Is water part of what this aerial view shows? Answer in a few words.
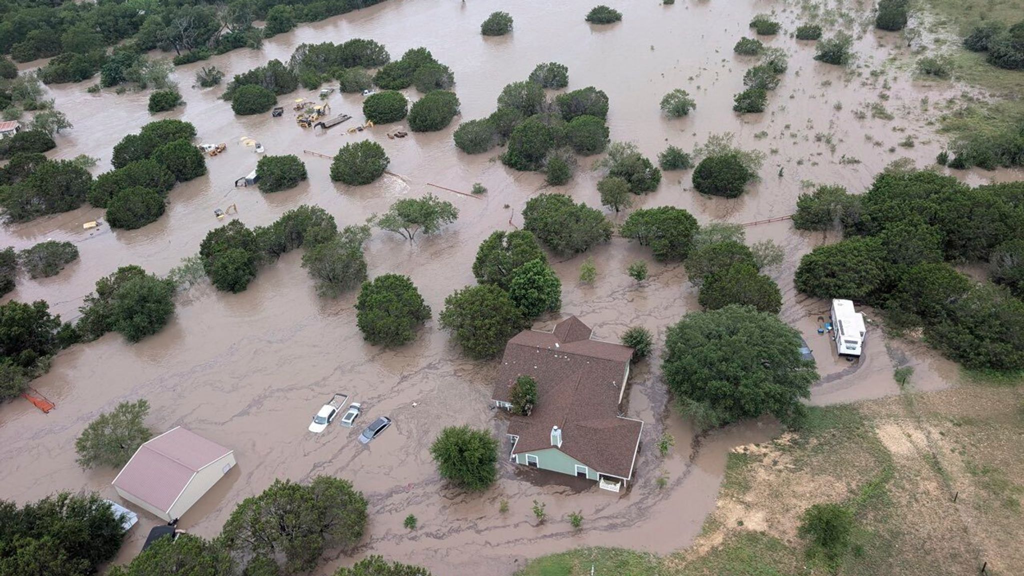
Yes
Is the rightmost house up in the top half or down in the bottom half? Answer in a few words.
bottom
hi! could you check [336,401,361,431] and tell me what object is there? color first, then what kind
white car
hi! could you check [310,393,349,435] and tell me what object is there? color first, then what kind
white truck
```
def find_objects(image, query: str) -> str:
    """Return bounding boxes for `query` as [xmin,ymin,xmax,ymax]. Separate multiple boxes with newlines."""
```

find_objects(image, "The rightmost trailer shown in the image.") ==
[830,299,867,363]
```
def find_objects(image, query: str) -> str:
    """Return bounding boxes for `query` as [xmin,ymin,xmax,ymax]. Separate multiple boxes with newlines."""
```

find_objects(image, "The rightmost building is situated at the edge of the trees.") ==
[490,314,645,492]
